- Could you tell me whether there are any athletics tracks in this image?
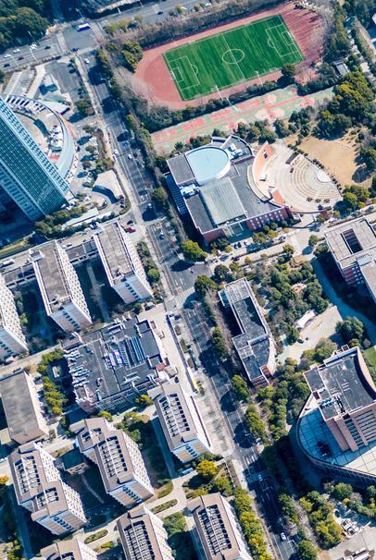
Yes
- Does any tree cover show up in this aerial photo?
Yes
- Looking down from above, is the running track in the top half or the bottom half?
top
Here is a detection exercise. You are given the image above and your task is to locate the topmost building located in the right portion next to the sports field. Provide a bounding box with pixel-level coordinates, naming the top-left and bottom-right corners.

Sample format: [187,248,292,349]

[167,135,295,245]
